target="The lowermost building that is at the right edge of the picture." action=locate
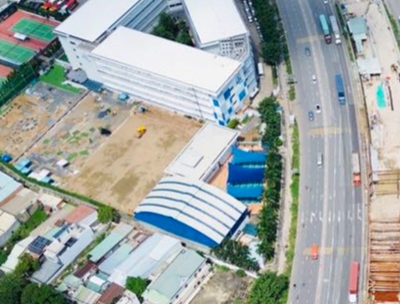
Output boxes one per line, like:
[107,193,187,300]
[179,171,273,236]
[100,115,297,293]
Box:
[357,57,380,79]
